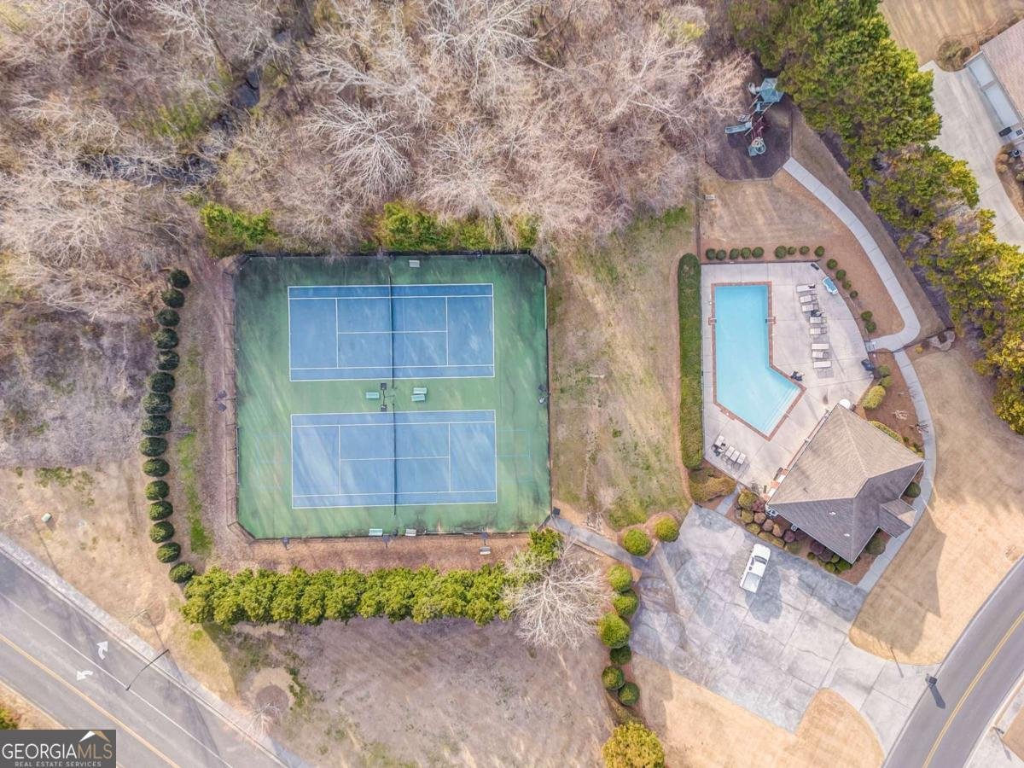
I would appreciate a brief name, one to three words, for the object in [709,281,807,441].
swimming pool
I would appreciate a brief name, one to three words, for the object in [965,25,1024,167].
house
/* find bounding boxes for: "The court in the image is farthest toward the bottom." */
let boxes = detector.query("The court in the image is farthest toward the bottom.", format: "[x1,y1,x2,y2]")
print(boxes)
[235,396,550,539]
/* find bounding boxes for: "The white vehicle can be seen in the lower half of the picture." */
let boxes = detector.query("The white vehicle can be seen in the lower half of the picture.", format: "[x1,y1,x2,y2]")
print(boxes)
[740,544,771,593]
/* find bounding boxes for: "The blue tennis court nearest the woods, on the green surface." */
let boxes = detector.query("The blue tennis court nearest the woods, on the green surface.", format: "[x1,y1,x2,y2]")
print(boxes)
[232,254,549,396]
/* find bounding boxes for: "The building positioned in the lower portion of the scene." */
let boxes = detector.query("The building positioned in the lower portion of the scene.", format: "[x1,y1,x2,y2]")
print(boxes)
[766,402,924,565]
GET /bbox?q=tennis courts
[235,396,550,539]
[232,254,549,396]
